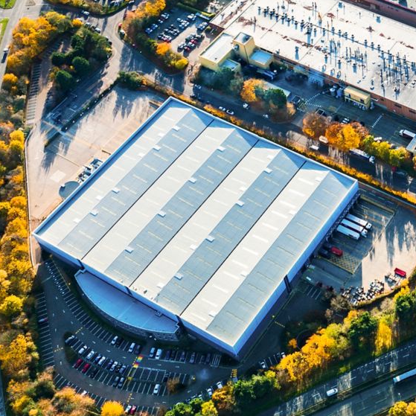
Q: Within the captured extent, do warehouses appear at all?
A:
Yes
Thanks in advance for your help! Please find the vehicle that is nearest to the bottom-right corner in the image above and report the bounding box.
[393,367,416,385]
